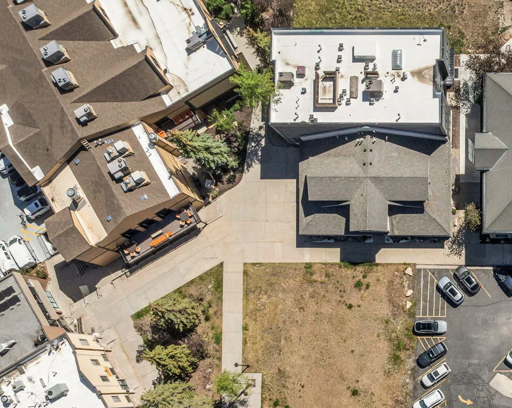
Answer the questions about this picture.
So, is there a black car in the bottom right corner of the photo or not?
Yes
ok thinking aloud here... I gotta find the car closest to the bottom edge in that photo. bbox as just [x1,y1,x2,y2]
[413,390,445,408]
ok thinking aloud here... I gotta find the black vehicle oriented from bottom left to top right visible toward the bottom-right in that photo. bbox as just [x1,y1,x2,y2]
[416,342,449,368]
